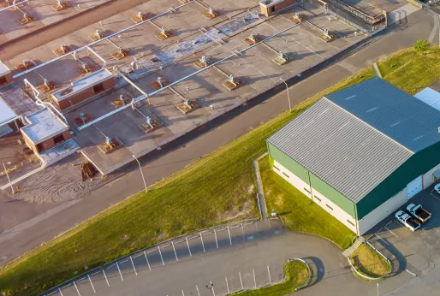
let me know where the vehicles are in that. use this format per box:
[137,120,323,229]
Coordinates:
[406,201,433,224]
[433,183,440,194]
[395,209,422,232]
